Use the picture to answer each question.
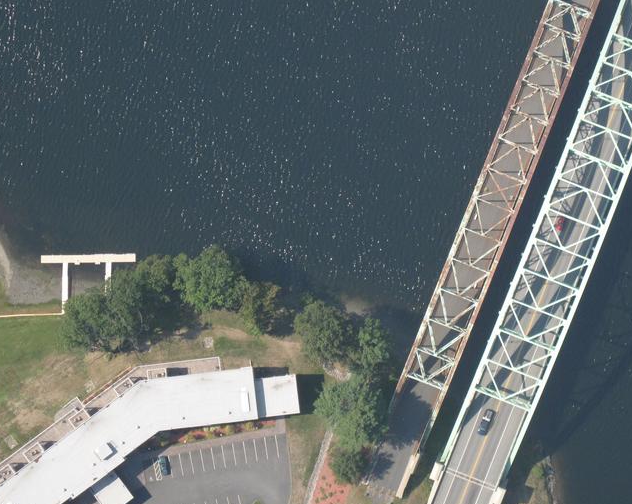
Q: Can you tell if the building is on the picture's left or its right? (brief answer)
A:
left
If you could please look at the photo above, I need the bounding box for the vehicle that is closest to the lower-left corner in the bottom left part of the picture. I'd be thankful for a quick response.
[158,454,171,476]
